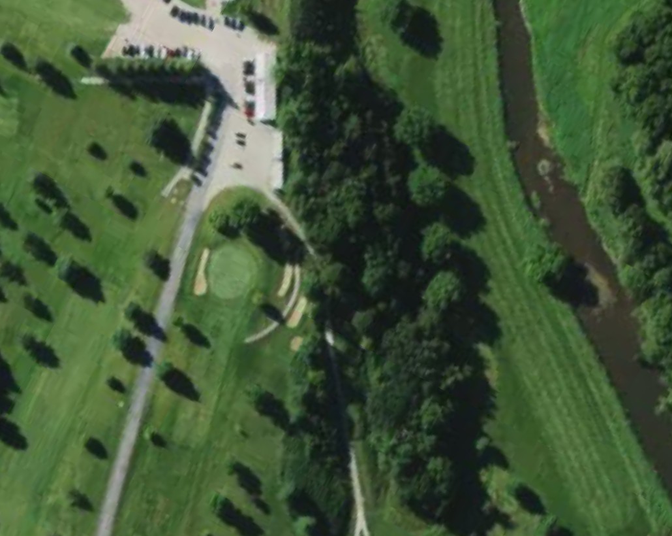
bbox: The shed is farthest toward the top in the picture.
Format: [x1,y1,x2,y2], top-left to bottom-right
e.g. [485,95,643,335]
[255,52,276,120]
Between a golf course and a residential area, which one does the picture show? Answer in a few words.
golf course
